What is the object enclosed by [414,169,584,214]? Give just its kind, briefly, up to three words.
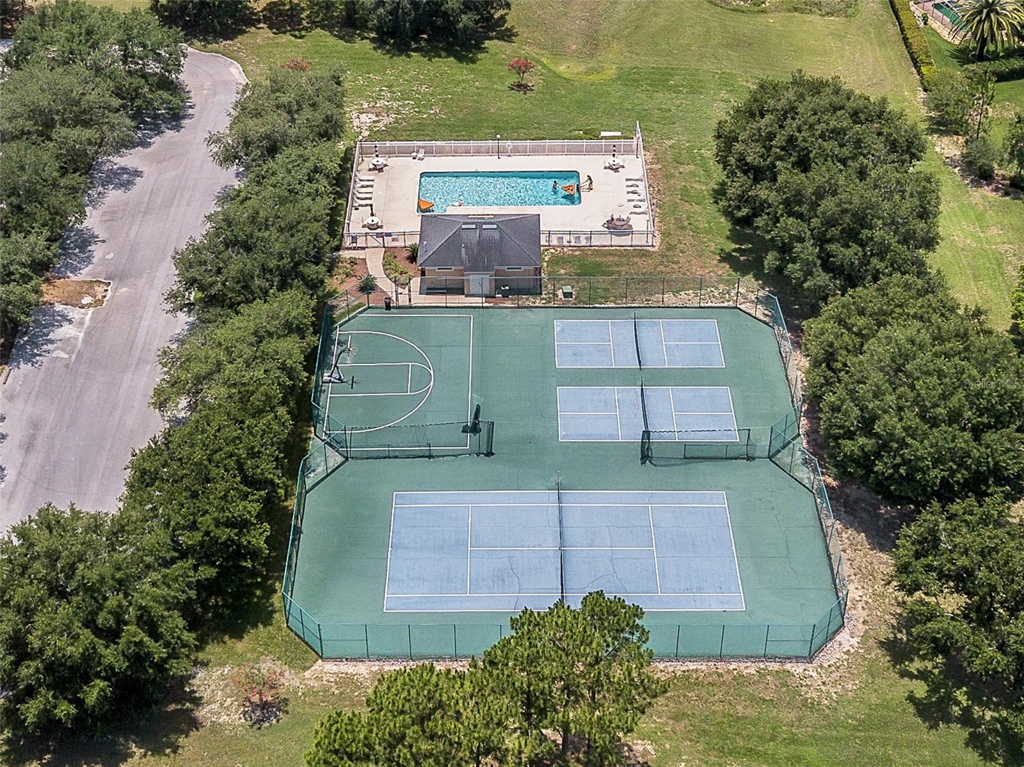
swimming pool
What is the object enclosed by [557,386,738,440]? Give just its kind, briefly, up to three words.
sports court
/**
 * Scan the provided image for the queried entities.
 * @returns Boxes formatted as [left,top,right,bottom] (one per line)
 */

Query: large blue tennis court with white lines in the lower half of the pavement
[383,490,745,611]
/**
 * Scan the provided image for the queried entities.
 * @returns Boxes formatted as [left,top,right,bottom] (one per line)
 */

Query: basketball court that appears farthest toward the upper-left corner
[320,314,473,449]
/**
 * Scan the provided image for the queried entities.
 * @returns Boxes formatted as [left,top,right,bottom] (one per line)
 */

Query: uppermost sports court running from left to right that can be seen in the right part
[554,319,725,367]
